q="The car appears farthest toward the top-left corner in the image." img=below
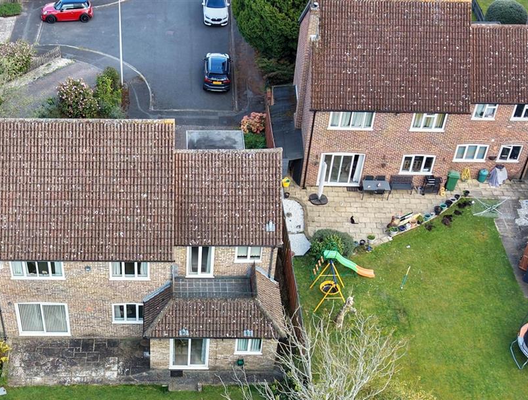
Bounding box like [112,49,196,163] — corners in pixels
[39,0,96,26]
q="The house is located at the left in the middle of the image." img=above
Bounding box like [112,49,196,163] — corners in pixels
[0,114,287,368]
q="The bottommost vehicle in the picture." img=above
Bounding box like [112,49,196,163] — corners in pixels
[199,49,234,91]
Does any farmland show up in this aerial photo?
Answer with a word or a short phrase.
No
